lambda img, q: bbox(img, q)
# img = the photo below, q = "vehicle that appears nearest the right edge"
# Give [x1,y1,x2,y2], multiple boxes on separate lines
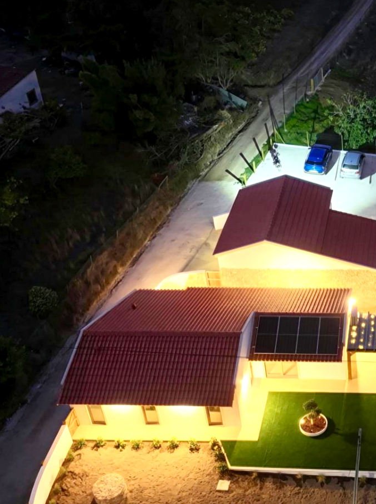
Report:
[339,150,366,178]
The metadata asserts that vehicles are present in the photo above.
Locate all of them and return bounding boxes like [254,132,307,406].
[339,150,366,178]
[302,143,334,174]
[268,144,279,168]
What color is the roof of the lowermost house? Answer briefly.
red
